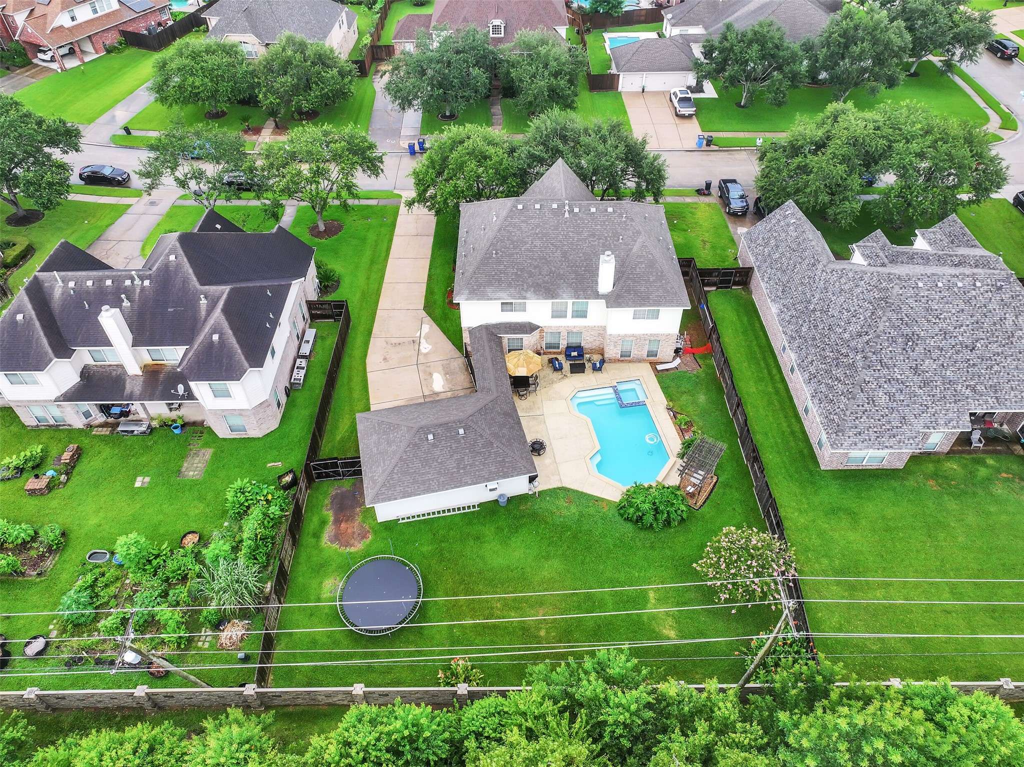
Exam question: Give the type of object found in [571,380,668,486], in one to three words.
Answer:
swimming pool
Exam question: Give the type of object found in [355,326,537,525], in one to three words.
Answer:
building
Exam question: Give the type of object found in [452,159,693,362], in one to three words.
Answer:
house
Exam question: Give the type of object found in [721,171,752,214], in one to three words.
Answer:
truck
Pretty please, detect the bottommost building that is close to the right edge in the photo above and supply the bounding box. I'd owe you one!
[739,199,1024,471]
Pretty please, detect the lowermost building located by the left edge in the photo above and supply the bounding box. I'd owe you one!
[0,208,321,437]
